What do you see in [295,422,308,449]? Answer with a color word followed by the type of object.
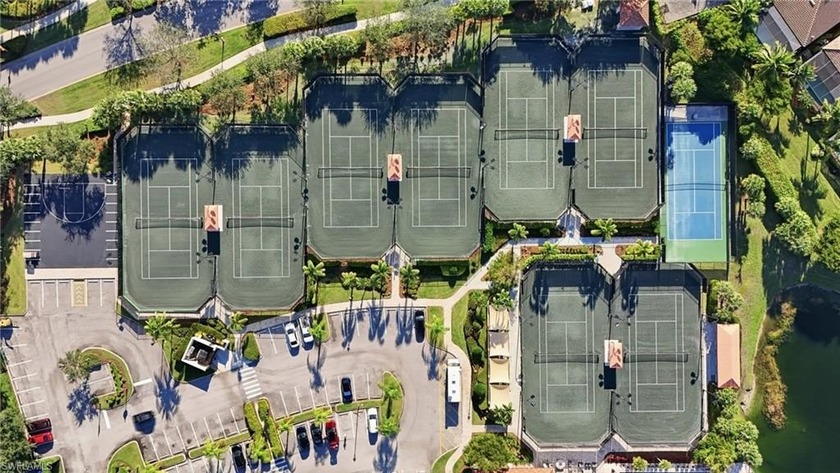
black vehicle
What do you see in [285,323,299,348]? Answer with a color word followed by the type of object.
white vehicle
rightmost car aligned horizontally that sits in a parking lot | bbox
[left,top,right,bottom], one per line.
[132,408,156,422]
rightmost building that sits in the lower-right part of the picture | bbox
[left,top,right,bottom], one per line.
[713,320,740,388]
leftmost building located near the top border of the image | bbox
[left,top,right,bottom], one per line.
[616,0,650,31]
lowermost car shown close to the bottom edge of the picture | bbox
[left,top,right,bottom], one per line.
[232,444,247,470]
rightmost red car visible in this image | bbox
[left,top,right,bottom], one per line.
[326,419,339,448]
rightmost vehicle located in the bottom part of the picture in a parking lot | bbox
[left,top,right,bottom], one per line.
[445,357,463,403]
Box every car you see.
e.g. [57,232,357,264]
[29,431,54,444]
[326,419,339,448]
[232,444,247,470]
[299,314,314,342]
[367,407,377,432]
[341,376,353,402]
[414,310,426,334]
[132,408,156,422]
[310,419,323,444]
[27,417,52,430]
[295,422,308,449]
[285,323,299,348]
